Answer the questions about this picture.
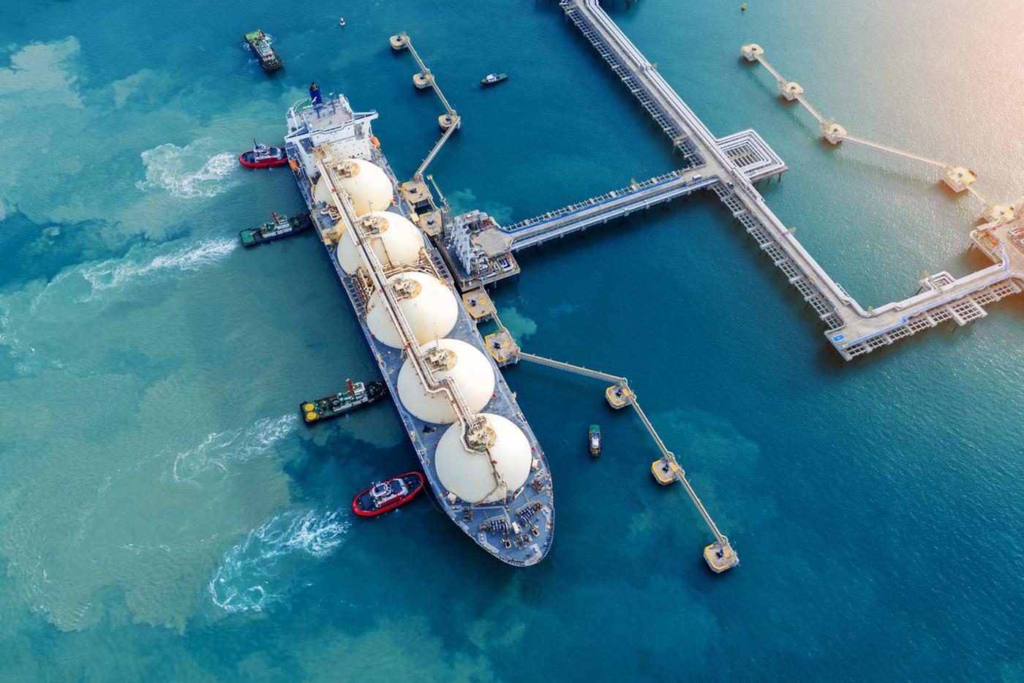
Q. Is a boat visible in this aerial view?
Yes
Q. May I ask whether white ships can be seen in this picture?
Yes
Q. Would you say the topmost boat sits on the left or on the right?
left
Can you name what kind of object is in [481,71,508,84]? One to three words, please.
boat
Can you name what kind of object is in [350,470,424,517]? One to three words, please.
boat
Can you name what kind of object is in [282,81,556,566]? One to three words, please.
ship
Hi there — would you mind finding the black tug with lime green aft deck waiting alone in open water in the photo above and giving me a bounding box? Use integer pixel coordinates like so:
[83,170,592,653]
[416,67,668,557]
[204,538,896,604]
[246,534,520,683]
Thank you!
[242,23,280,71]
